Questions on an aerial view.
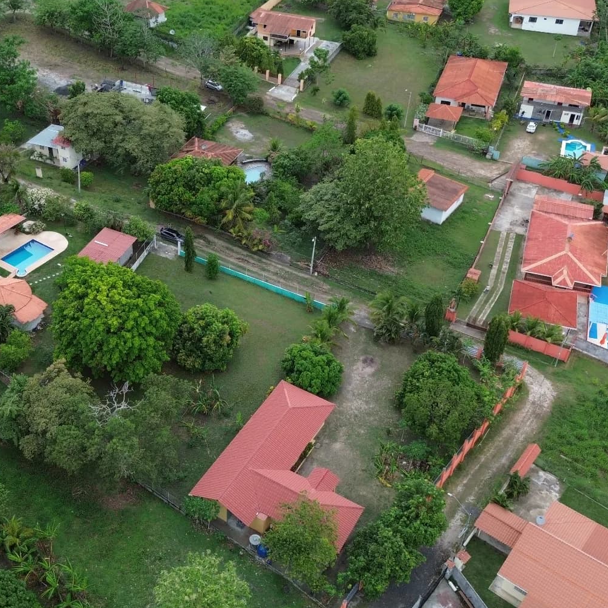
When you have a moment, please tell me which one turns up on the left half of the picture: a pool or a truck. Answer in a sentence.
You can see a pool on the left half of the picture.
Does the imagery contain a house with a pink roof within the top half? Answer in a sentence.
Yes, a house with a pink roof can be seen within the top half.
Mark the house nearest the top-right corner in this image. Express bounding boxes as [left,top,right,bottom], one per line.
[509,0,598,36]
